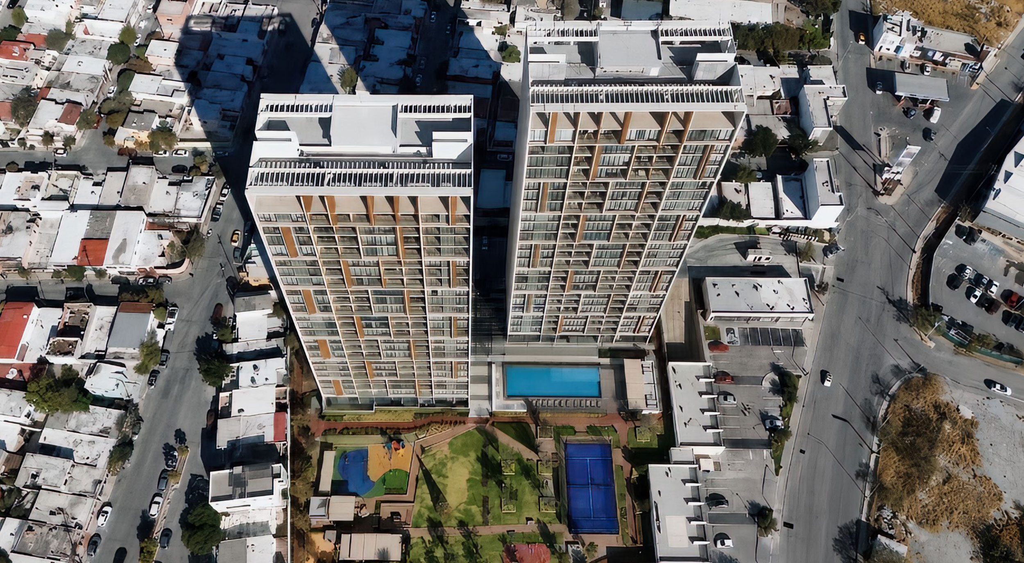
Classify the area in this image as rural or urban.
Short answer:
urban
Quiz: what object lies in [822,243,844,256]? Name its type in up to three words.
vehicle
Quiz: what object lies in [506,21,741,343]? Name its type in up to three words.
building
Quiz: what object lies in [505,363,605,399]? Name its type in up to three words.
swimming pool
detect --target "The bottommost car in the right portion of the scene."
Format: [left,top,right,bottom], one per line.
[712,537,735,549]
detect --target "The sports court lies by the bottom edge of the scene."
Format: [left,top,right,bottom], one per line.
[563,438,622,536]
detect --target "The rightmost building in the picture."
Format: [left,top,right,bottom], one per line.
[955,127,1024,277]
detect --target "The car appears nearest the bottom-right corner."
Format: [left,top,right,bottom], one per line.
[989,380,1010,394]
